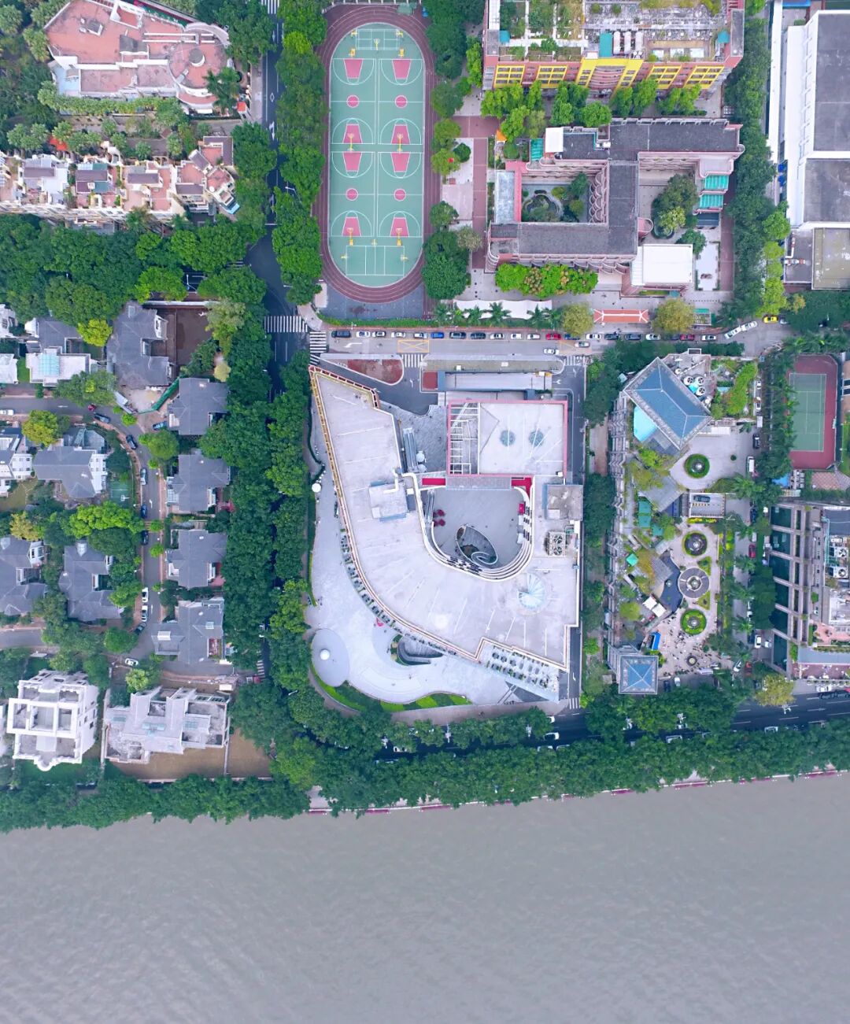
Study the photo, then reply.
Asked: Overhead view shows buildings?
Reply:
Yes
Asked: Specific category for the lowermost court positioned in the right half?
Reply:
tennis court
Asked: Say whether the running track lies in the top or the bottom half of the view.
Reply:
top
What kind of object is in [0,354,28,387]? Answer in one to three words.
house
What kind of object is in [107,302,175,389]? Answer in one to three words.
house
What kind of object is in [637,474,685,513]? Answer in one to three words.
building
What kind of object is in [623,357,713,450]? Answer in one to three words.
building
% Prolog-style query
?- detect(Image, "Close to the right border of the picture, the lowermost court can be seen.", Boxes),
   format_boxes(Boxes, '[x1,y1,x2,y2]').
[786,354,838,469]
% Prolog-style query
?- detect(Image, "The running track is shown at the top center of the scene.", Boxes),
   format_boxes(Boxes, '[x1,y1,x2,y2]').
[318,6,434,303]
